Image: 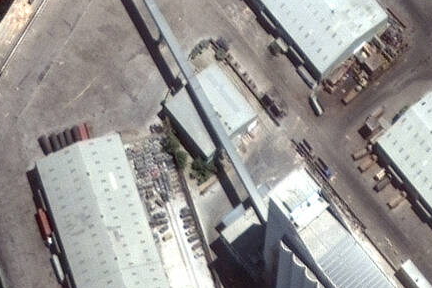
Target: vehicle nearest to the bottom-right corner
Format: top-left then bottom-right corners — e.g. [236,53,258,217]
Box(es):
[386,190,408,209]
